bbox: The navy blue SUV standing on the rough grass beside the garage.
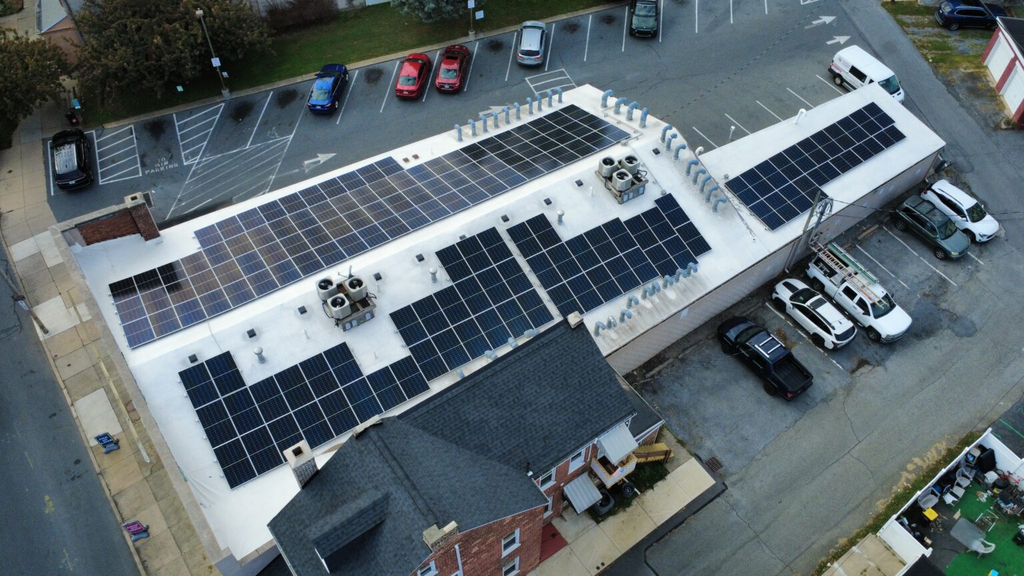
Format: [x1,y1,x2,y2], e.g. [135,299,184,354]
[932,0,1010,30]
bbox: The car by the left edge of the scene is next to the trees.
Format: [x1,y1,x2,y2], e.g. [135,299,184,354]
[42,129,90,189]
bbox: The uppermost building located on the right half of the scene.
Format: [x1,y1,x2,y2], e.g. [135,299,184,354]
[975,22,1024,121]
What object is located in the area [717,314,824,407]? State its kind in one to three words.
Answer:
truck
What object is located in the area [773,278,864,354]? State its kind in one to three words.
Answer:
car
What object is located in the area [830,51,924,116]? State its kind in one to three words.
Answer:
van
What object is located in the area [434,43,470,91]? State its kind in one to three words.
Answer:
car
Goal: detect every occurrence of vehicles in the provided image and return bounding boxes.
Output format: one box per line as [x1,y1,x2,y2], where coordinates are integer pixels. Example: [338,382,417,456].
[773,278,864,354]
[804,241,922,347]
[517,18,549,63]
[630,0,662,36]
[717,314,824,407]
[391,49,428,96]
[42,129,90,189]
[932,0,1010,30]
[303,64,350,115]
[830,51,924,116]
[434,43,470,91]
[923,177,1014,245]
[889,195,980,265]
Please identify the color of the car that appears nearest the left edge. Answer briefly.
black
